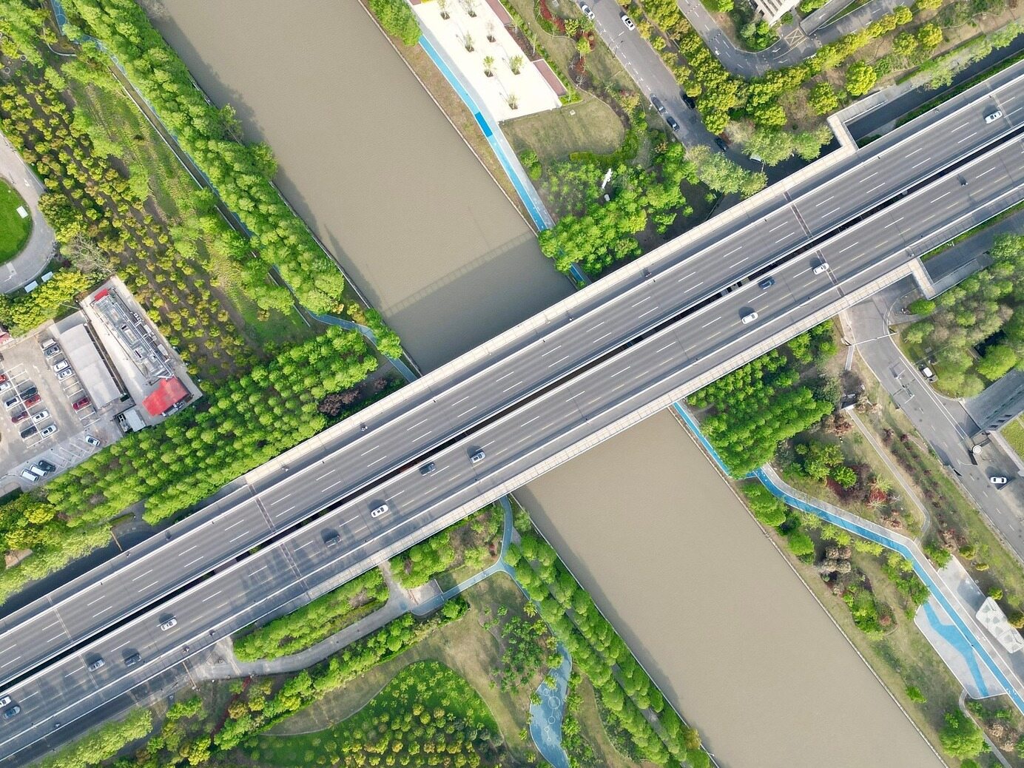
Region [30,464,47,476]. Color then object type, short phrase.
white vehicle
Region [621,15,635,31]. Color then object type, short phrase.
white car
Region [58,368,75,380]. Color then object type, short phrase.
white vehicle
